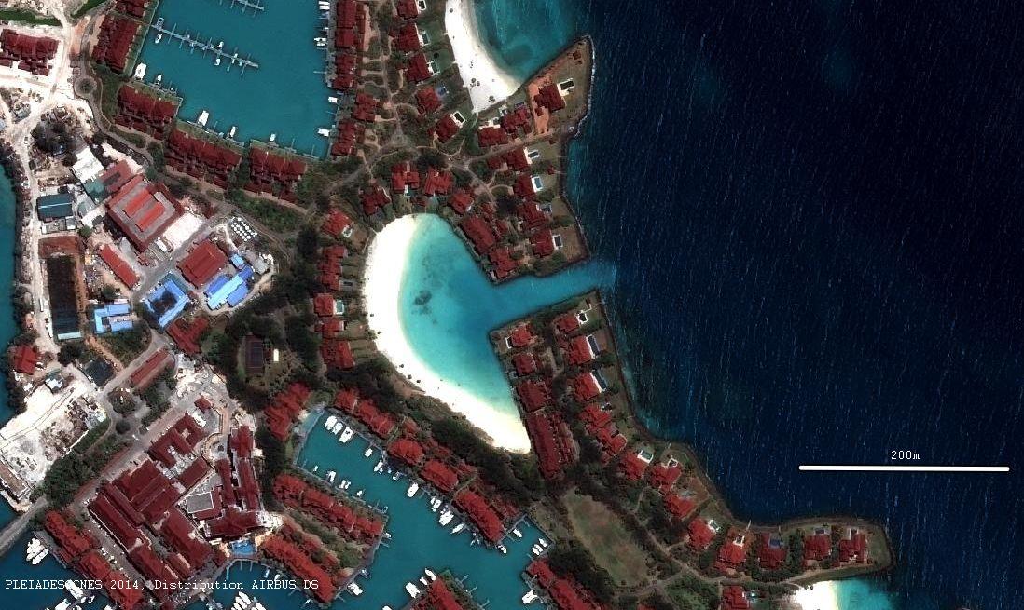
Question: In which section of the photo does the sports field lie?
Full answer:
The sports field sits in the bottom section of the image.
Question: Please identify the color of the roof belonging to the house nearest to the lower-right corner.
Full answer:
From above, the roof of the house nearest to the lower-right corner looks red.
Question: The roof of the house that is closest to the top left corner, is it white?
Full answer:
No, the roof of the house that is closest to the top left corner is actually red.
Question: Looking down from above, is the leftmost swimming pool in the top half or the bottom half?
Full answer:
The leftmost swimming pool sits in the bottom half of the picture.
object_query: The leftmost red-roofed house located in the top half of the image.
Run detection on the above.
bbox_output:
[0,27,59,77]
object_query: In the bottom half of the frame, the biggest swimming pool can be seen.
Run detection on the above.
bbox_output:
[228,539,258,560]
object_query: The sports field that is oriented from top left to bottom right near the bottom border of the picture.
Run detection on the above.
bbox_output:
[567,494,647,585]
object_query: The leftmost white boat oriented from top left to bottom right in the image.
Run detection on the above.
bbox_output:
[66,582,85,600]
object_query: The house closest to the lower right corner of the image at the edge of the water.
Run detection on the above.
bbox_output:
[836,533,870,566]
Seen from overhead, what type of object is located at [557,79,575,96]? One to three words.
swimming pool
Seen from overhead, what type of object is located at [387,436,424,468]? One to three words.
house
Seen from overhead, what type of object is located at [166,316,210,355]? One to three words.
building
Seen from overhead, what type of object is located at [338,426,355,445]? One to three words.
boat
